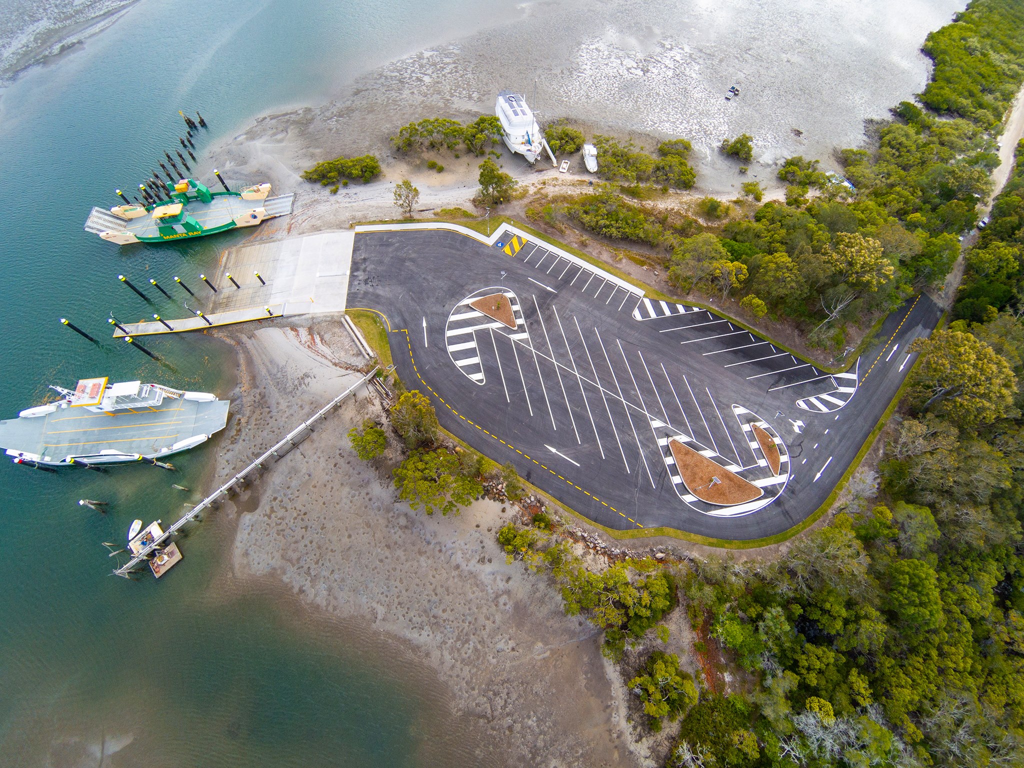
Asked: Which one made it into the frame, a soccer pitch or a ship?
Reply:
ship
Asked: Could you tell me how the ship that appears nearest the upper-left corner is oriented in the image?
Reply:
from side to side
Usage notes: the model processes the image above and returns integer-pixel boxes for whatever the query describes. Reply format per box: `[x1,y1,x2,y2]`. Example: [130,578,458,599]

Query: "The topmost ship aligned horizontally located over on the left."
[83,178,295,247]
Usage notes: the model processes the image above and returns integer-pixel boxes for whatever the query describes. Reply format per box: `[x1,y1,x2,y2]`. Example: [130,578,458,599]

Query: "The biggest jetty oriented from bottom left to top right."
[98,368,374,582]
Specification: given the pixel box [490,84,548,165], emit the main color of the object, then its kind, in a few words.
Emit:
white boat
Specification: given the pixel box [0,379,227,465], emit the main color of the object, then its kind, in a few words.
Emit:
white ship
